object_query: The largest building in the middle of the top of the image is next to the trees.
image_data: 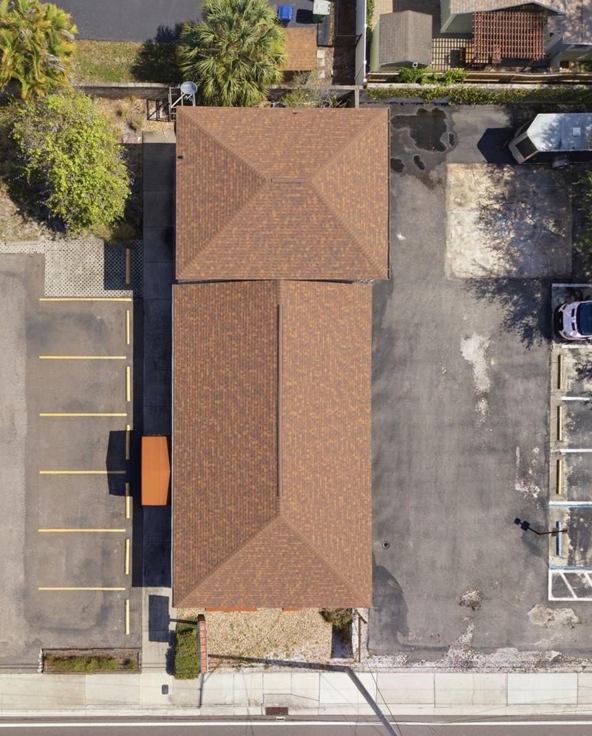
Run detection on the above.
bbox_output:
[173,104,392,283]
